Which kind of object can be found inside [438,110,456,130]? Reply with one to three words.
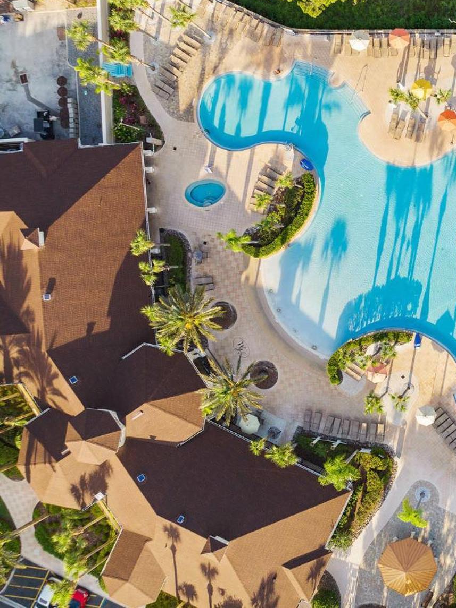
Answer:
umbrella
